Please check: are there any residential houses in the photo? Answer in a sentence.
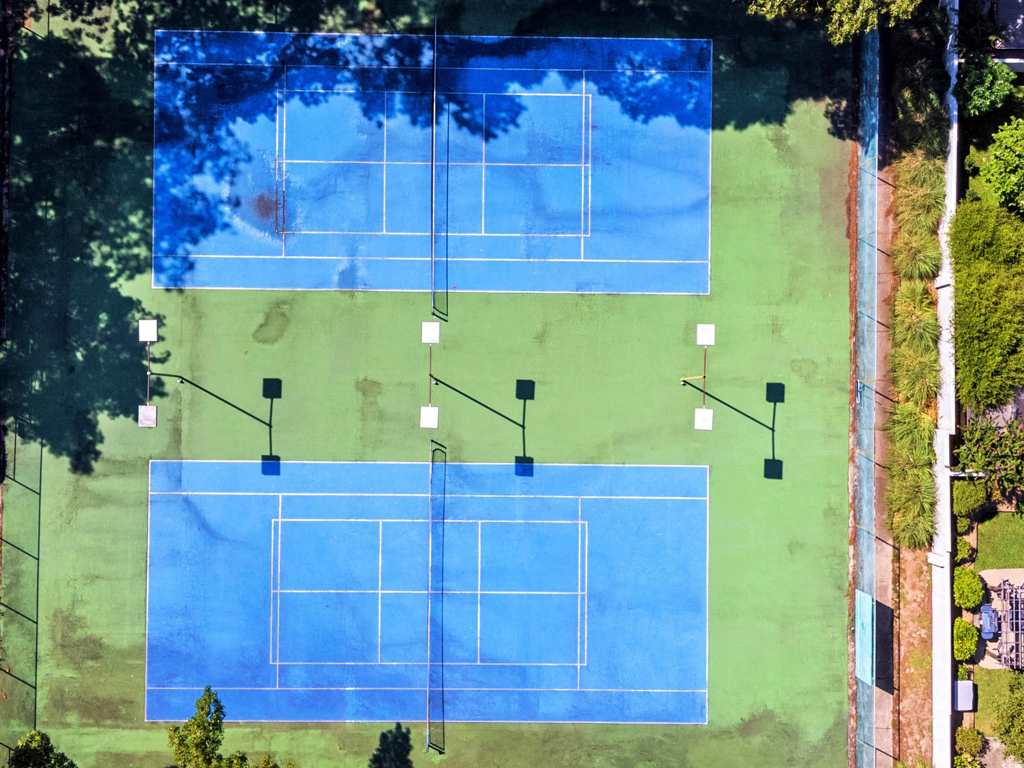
No, there's no residential house here.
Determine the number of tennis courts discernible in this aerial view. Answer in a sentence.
In total, there are 2 tennis courts in the scene.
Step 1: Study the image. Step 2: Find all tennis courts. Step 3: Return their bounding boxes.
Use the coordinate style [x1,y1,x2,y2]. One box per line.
[151,30,712,294]
[146,461,709,724]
